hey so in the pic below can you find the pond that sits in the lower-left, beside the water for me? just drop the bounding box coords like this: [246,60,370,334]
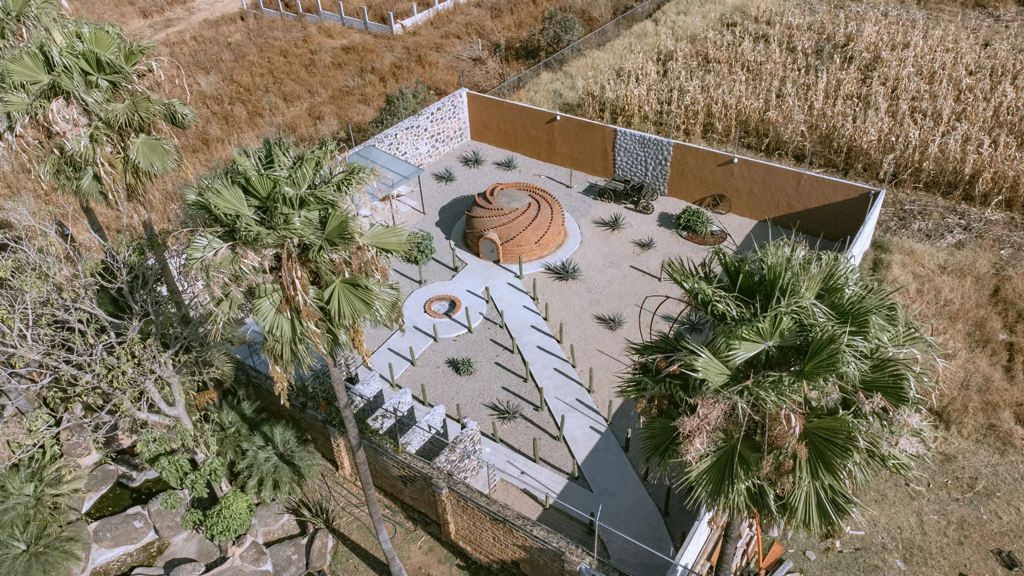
[0,375,331,576]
